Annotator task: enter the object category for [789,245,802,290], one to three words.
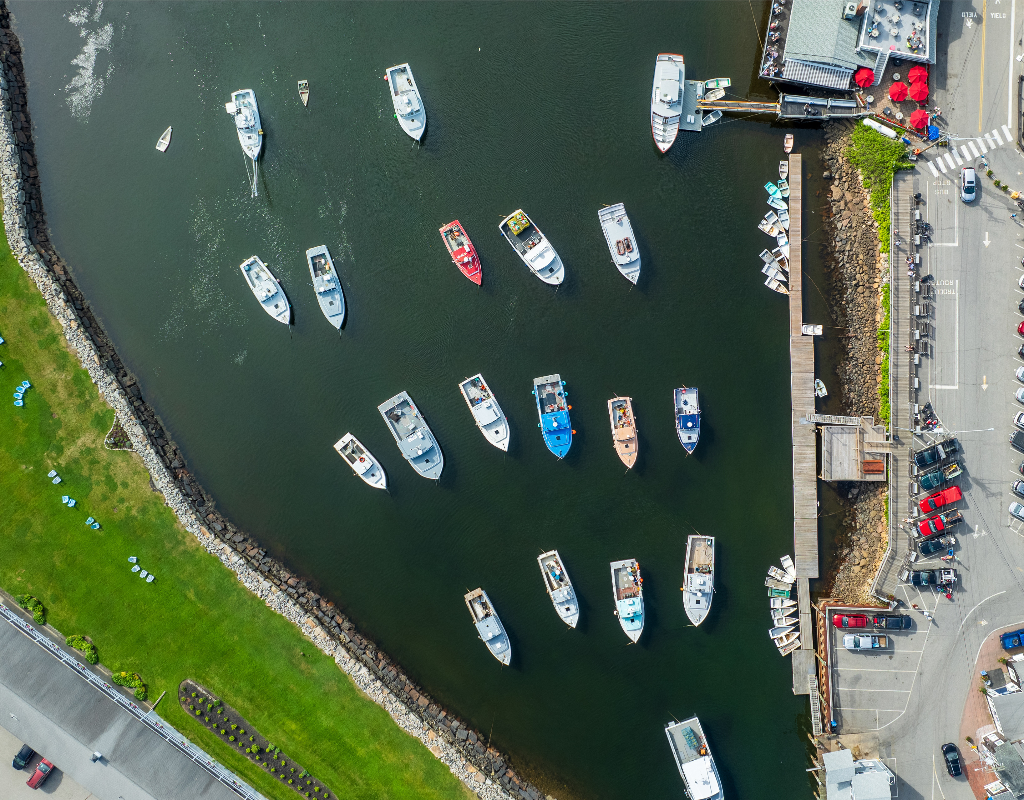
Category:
pier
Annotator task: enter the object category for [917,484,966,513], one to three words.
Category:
truck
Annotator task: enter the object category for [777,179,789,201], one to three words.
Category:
boat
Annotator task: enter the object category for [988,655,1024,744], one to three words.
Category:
building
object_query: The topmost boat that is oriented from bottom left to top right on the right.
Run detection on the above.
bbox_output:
[702,110,722,125]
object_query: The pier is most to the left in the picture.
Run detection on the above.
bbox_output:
[678,80,706,132]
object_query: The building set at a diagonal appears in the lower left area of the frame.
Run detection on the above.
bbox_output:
[0,597,263,800]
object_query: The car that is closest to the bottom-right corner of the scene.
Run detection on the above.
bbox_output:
[939,741,964,778]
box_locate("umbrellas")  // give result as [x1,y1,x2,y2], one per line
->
[888,83,907,102]
[908,110,928,129]
[907,66,927,84]
[908,83,928,102]
[854,70,873,88]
